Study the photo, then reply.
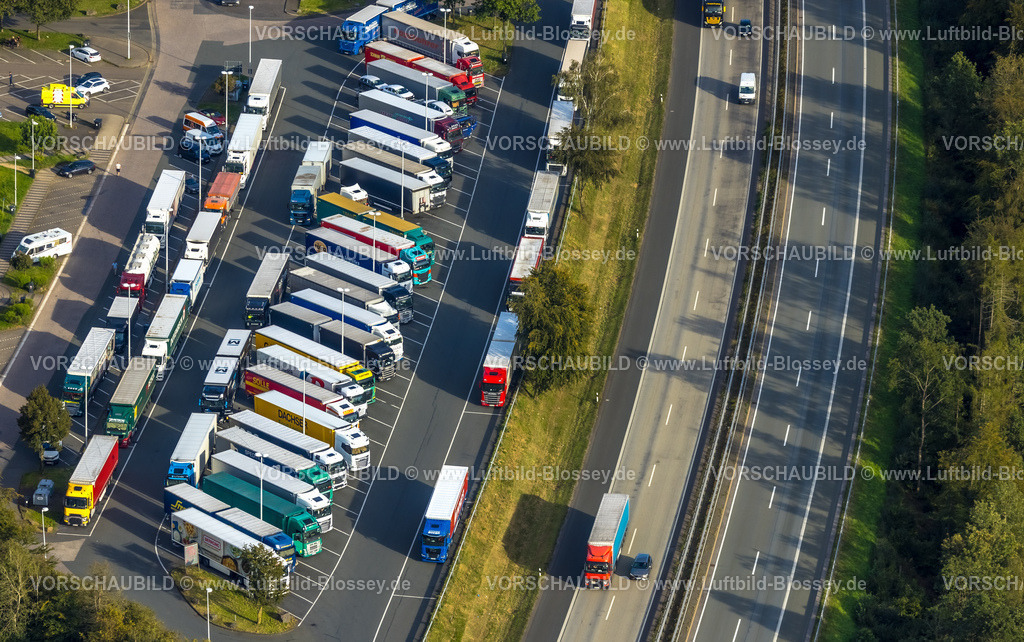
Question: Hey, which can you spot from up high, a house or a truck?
truck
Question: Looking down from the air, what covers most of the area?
paved ground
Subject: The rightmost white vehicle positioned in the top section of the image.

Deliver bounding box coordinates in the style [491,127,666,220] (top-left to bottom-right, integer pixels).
[738,69,757,102]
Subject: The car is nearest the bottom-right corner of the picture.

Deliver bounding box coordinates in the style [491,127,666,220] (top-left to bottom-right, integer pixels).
[629,550,653,577]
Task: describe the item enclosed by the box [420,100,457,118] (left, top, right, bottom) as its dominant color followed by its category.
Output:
white car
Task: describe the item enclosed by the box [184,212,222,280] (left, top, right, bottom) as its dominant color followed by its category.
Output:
white truck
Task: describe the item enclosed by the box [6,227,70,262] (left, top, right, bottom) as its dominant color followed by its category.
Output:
white camper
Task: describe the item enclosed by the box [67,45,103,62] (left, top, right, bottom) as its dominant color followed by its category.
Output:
white car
